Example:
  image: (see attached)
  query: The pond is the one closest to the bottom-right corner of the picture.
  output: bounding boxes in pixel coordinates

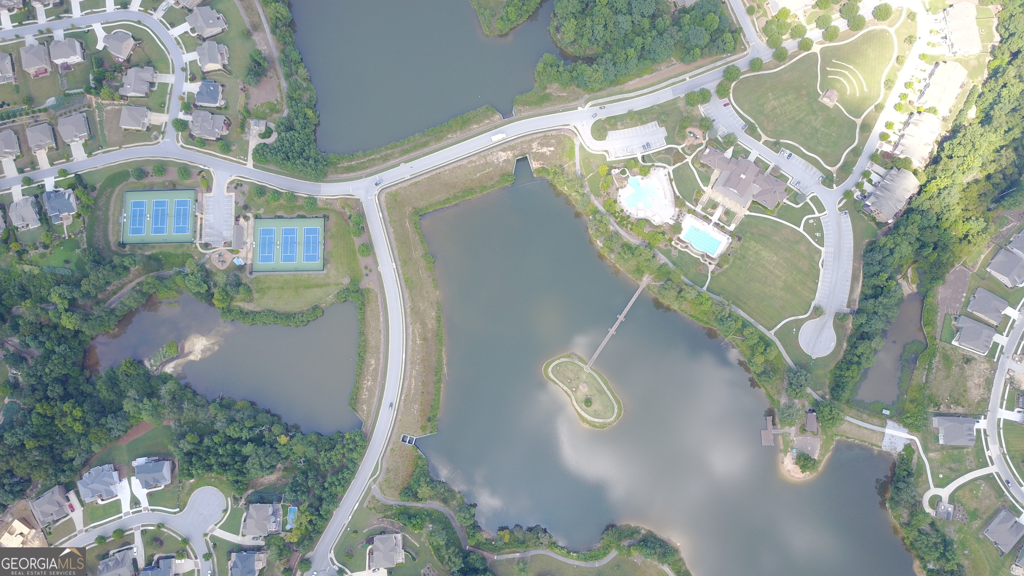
[852,292,929,406]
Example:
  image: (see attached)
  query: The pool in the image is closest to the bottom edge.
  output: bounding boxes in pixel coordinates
[285,505,299,530]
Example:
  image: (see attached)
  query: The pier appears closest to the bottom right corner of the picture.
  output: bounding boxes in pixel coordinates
[760,416,795,445]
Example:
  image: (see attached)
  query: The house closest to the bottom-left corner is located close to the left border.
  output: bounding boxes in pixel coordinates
[0,519,31,555]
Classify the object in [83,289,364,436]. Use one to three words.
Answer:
pond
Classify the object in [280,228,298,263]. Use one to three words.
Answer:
tennis court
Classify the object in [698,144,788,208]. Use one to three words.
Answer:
building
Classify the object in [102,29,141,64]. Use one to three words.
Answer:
house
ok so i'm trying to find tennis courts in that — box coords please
[303,227,321,262]
[257,228,276,263]
[280,228,298,263]
[173,199,191,234]
[129,200,147,235]
[151,200,169,235]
